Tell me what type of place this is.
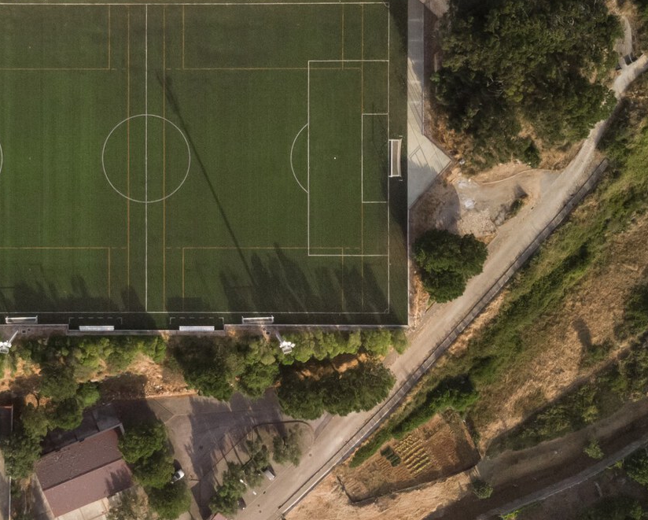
sports ground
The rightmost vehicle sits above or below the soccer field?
below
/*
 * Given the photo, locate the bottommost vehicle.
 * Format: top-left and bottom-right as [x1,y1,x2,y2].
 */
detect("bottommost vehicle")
[234,497,249,515]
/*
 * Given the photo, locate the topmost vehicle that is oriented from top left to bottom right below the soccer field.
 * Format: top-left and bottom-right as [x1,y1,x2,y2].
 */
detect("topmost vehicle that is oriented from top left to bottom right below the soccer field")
[258,465,280,485]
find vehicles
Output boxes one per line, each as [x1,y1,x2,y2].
[172,468,187,484]
[234,497,249,515]
[258,465,280,485]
